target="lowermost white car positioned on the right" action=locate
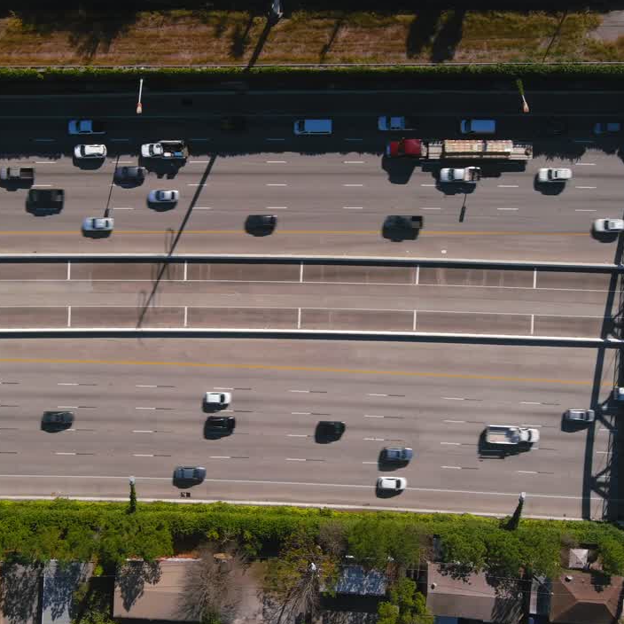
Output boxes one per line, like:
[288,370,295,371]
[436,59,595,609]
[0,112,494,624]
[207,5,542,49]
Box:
[377,477,406,491]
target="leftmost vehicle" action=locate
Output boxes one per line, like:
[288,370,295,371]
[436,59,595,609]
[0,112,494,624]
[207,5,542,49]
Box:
[0,165,35,181]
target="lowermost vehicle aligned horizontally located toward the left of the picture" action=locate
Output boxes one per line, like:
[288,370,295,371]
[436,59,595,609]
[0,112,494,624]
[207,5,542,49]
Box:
[175,467,206,481]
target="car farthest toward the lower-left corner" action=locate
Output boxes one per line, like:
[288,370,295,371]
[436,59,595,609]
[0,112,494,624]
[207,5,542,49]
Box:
[43,412,74,424]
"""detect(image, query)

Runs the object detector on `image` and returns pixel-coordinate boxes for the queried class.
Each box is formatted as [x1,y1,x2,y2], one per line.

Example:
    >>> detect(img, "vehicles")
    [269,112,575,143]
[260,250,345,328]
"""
[377,477,406,491]
[75,144,108,158]
[459,119,497,134]
[383,448,412,462]
[207,417,236,432]
[147,190,180,203]
[592,122,621,135]
[487,427,540,444]
[245,216,277,231]
[377,115,417,132]
[29,191,65,206]
[142,142,187,158]
[317,421,346,434]
[206,392,232,406]
[294,119,333,134]
[69,119,106,134]
[0,165,35,181]
[381,217,423,232]
[83,217,115,232]
[175,467,206,481]
[591,217,624,233]
[564,408,594,423]
[43,412,74,424]
[535,167,572,182]
[115,167,146,182]
[385,139,534,160]
[439,167,482,182]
